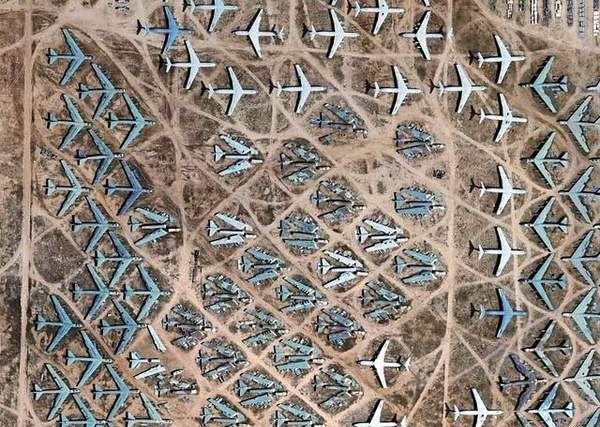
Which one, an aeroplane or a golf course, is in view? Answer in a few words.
aeroplane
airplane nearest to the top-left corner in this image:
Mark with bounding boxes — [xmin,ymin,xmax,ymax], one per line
[47,29,94,85]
